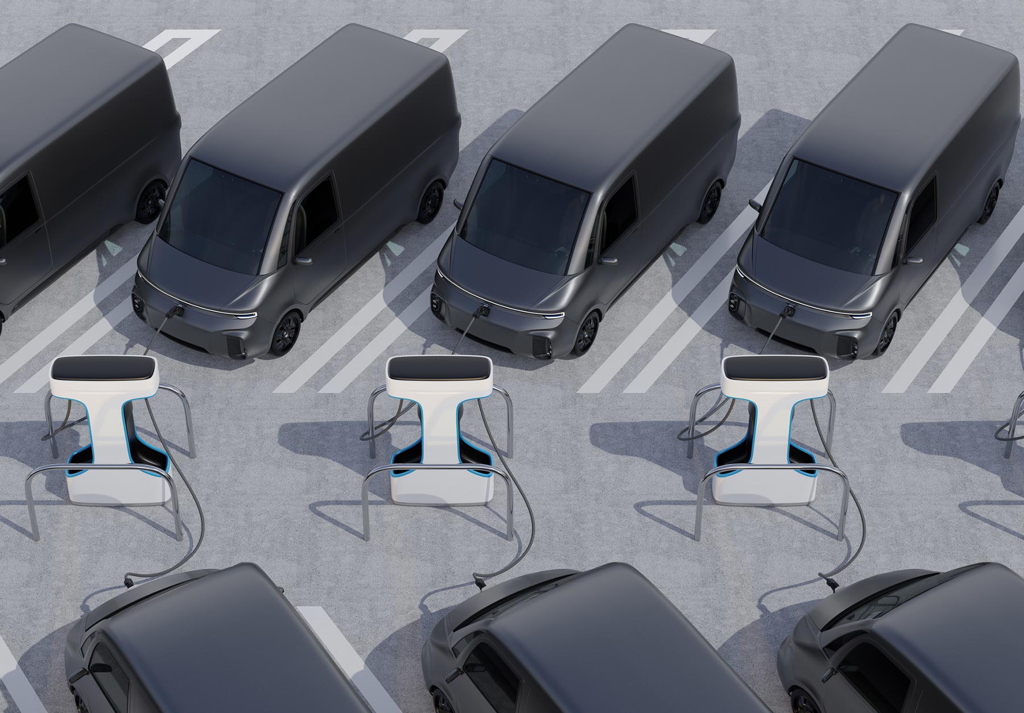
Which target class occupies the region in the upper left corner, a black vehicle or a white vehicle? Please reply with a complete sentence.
The one visible in the upper left corner is a black vehicle.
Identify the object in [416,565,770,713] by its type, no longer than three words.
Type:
van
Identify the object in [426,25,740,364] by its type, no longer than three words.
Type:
van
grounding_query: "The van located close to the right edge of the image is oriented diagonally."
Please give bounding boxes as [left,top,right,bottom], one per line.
[725,25,1020,364]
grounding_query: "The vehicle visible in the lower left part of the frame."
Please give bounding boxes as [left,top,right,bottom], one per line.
[60,565,370,713]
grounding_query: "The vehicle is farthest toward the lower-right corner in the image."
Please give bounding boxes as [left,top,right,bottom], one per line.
[772,565,1024,713]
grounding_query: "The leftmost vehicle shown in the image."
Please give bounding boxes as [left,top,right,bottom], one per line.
[0,25,180,323]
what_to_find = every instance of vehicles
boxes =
[725,25,1020,364]
[60,565,370,713]
[416,565,770,713]
[127,25,460,364]
[0,25,180,323]
[772,565,1024,713]
[426,25,740,364]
